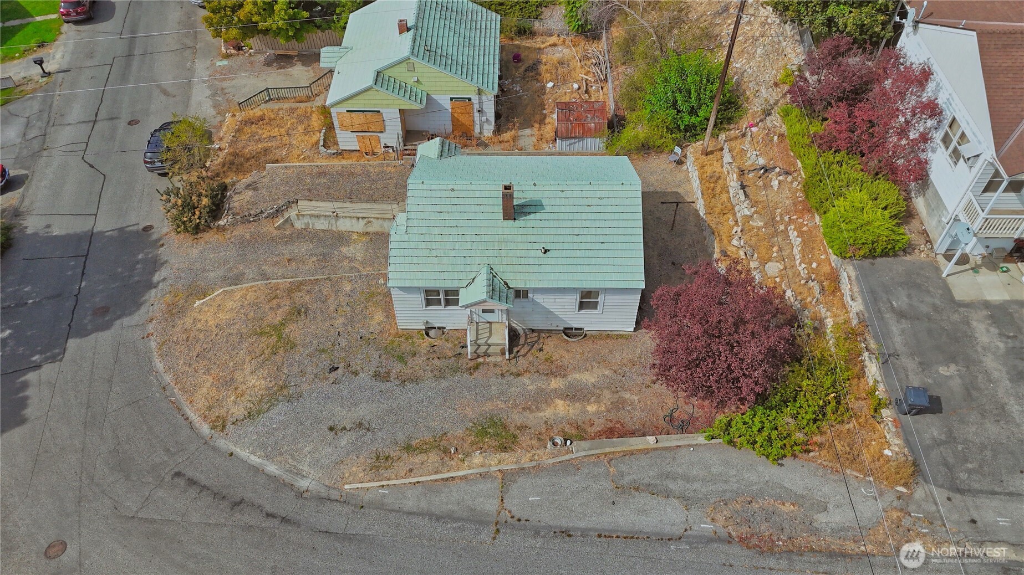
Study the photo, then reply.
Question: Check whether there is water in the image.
No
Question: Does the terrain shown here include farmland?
No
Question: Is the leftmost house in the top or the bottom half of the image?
top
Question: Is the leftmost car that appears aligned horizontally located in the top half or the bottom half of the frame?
top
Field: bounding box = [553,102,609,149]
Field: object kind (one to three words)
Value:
shed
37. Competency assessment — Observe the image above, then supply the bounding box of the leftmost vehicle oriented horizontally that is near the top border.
[56,0,105,22]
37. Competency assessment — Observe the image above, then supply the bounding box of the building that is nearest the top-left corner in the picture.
[318,0,499,154]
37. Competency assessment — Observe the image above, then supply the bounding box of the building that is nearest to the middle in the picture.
[386,137,647,362]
